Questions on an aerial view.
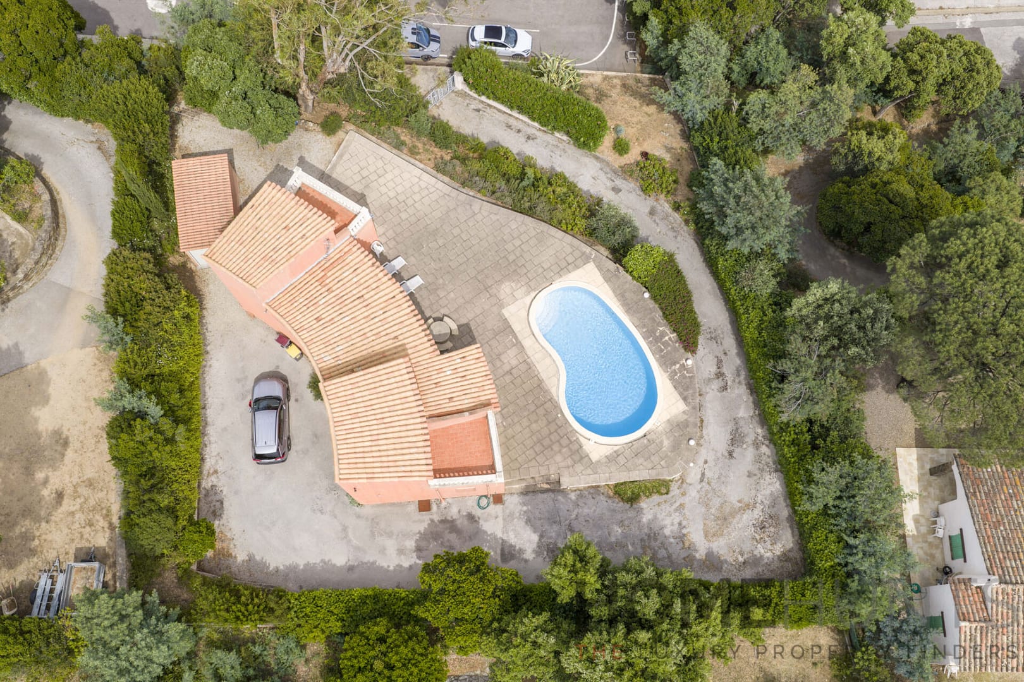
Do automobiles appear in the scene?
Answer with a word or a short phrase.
Yes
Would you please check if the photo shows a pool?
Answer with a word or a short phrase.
Yes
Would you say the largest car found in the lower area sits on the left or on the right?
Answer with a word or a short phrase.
left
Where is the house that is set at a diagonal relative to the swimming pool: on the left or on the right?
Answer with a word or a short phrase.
to the left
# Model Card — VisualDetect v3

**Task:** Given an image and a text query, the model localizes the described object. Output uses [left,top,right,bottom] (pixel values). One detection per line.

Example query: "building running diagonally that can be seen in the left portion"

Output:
[201,167,504,504]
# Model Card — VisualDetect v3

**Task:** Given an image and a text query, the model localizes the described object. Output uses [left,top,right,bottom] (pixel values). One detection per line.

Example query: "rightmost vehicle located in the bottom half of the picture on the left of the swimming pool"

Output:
[242,373,295,470]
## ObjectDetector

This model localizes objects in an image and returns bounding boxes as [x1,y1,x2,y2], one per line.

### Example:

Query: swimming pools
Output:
[529,280,665,444]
